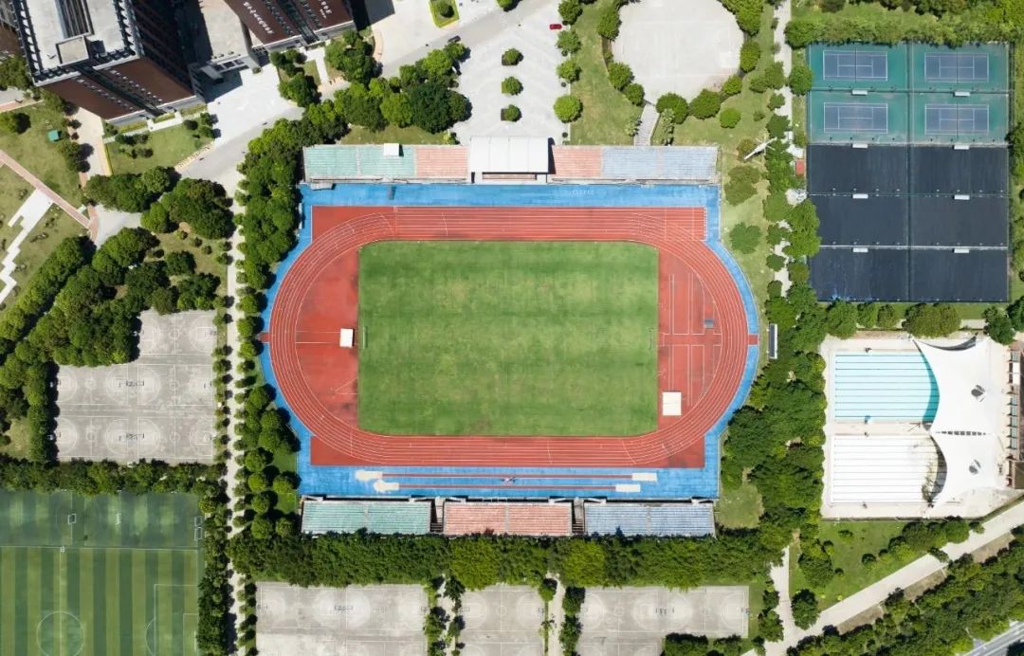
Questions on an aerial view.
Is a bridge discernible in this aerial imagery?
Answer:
No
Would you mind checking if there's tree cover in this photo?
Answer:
Yes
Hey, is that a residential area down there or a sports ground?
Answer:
sports ground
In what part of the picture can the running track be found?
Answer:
center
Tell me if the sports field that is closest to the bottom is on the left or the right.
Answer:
left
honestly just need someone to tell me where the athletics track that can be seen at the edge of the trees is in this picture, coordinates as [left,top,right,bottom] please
[260,185,759,499]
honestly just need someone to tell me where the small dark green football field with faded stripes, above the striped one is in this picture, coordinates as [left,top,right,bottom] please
[0,491,203,546]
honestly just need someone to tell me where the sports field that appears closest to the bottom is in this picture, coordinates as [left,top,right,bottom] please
[0,544,203,656]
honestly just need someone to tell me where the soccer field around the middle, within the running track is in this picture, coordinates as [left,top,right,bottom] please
[358,241,658,436]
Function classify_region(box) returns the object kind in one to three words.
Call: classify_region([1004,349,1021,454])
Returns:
building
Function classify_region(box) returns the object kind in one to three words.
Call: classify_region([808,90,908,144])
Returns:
tennis court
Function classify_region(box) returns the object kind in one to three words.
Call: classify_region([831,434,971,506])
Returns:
swimming pool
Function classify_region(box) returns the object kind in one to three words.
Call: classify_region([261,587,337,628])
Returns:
basketball court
